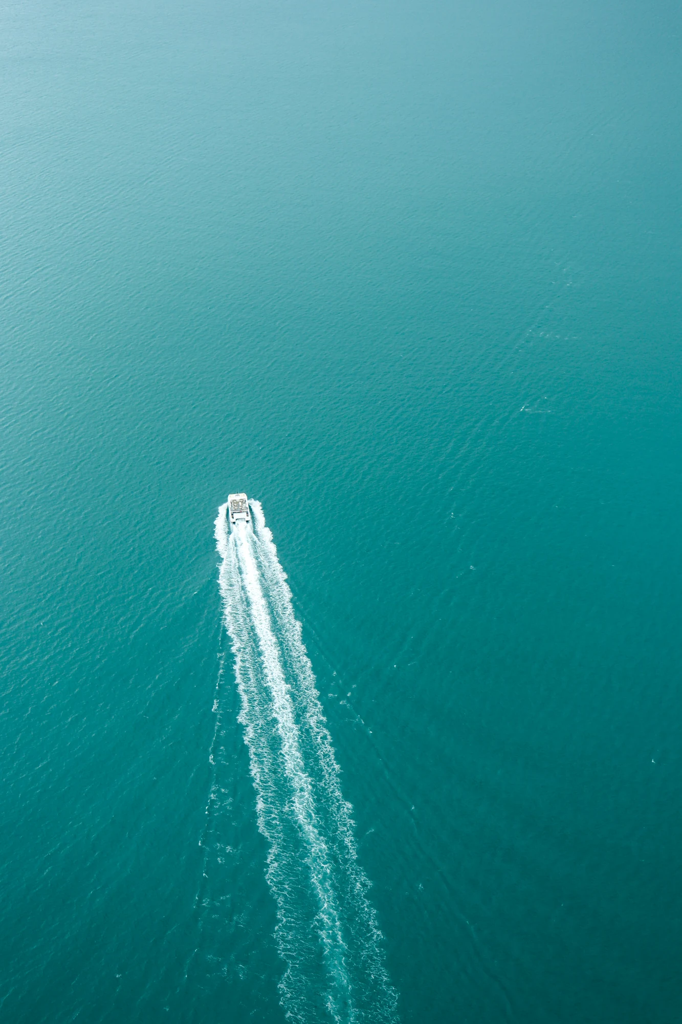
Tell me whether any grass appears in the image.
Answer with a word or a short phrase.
No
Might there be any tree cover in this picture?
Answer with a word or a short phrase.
No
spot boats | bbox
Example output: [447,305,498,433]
[230,491,250,523]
